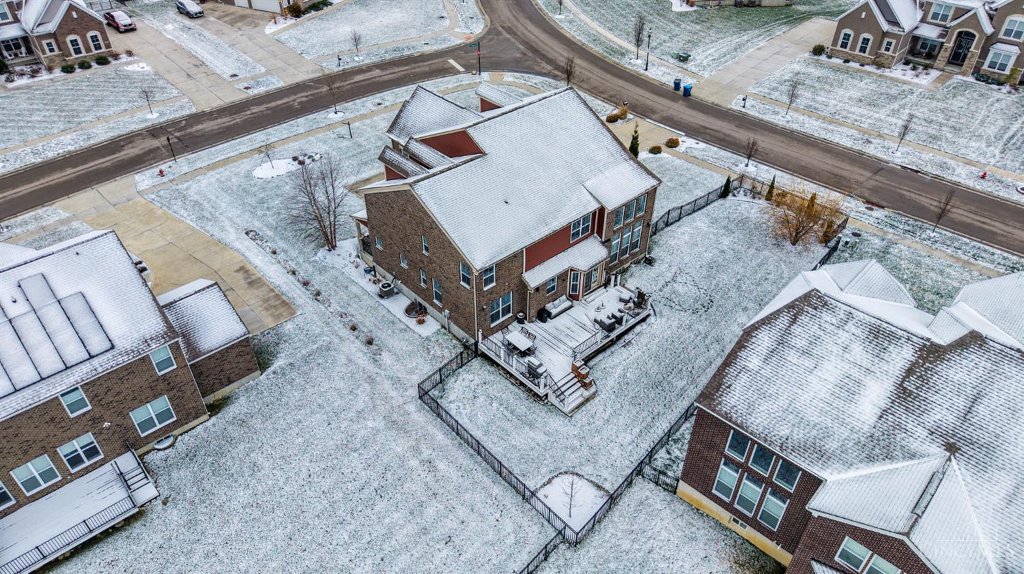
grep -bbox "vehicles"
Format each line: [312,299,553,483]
[177,0,202,16]
[102,8,135,31]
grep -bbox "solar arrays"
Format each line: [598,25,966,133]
[0,271,113,397]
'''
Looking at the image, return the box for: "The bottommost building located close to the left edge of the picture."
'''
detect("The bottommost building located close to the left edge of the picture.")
[0,227,262,512]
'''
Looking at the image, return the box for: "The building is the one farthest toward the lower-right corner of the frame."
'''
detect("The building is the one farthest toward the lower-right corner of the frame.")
[673,259,1024,574]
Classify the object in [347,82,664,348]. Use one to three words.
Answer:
house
